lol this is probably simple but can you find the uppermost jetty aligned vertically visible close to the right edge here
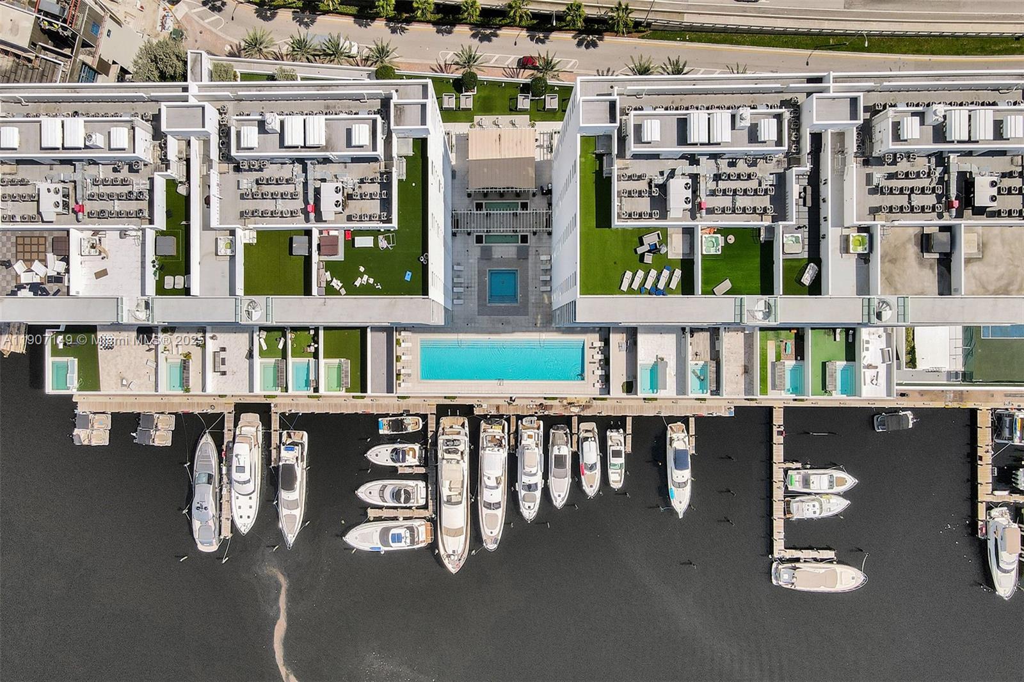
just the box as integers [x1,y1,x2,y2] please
[971,407,999,502]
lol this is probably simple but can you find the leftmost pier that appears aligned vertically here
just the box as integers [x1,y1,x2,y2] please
[217,412,238,539]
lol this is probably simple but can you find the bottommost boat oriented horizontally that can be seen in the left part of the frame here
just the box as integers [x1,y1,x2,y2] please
[343,516,436,551]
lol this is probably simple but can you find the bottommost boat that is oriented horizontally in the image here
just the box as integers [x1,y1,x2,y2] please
[768,558,869,591]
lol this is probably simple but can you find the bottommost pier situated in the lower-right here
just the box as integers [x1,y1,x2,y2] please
[784,546,839,563]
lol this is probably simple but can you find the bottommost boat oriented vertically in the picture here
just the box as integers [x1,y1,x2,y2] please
[981,504,1024,600]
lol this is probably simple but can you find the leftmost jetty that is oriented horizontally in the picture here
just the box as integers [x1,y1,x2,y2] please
[77,402,237,416]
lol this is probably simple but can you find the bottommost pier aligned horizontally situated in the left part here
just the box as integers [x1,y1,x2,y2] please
[367,505,426,520]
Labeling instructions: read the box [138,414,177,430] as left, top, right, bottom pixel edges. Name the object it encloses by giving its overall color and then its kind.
gray boat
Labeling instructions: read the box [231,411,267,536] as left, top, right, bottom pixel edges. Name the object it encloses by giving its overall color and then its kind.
white boat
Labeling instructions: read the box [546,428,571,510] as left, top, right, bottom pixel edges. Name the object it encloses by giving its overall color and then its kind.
white boat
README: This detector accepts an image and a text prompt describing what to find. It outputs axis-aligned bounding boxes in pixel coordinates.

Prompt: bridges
[394,0,1024,39]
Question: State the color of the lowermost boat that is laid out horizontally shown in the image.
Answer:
white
